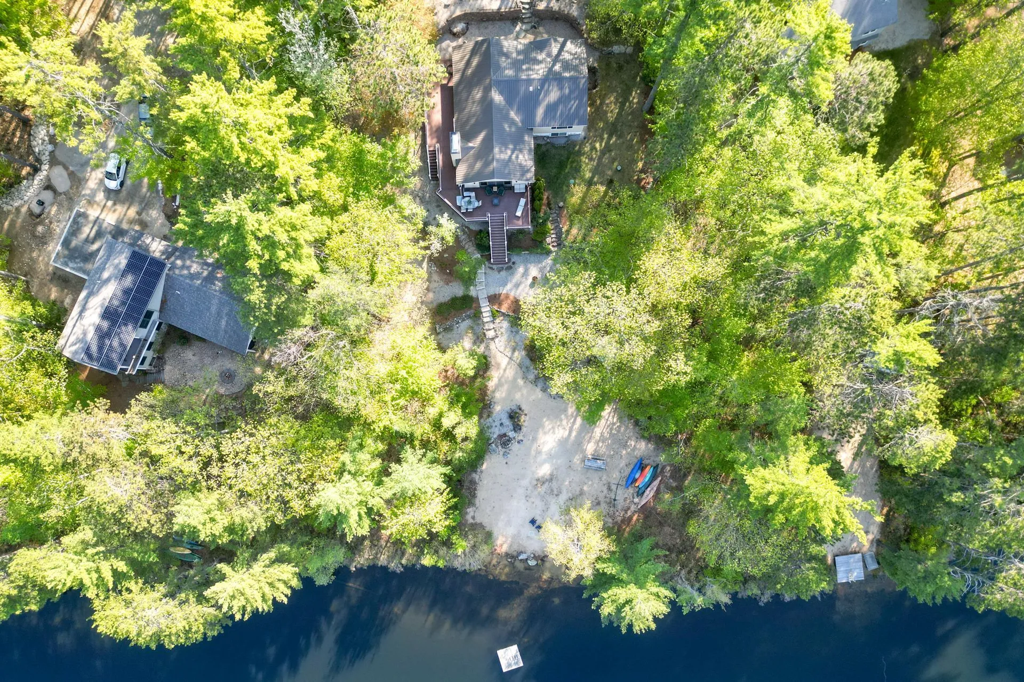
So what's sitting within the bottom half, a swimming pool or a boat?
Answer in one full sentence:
It is a boat that can be seen within the bottom half.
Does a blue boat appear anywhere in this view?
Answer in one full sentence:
Yes, there's a blue boat here.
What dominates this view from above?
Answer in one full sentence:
The largest share of the image is taken up by trees.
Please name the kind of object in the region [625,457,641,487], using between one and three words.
boat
